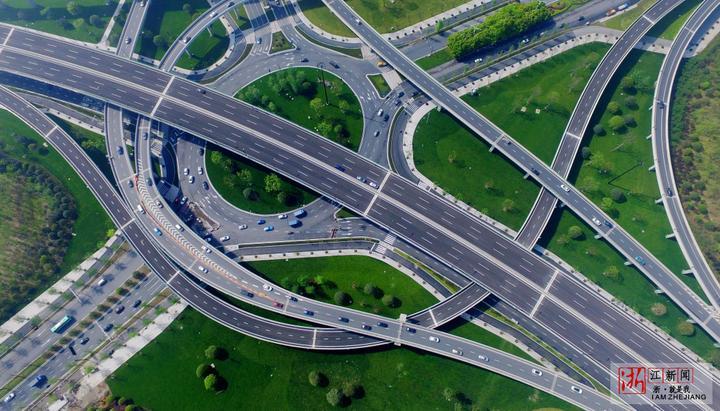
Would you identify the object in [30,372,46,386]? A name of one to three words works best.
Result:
vehicle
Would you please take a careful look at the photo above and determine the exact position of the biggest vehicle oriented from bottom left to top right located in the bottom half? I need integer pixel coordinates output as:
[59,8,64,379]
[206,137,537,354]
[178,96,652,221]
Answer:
[48,314,72,333]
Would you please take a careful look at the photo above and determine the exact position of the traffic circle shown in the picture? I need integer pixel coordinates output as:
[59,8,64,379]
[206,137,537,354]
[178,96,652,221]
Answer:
[173,25,412,251]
